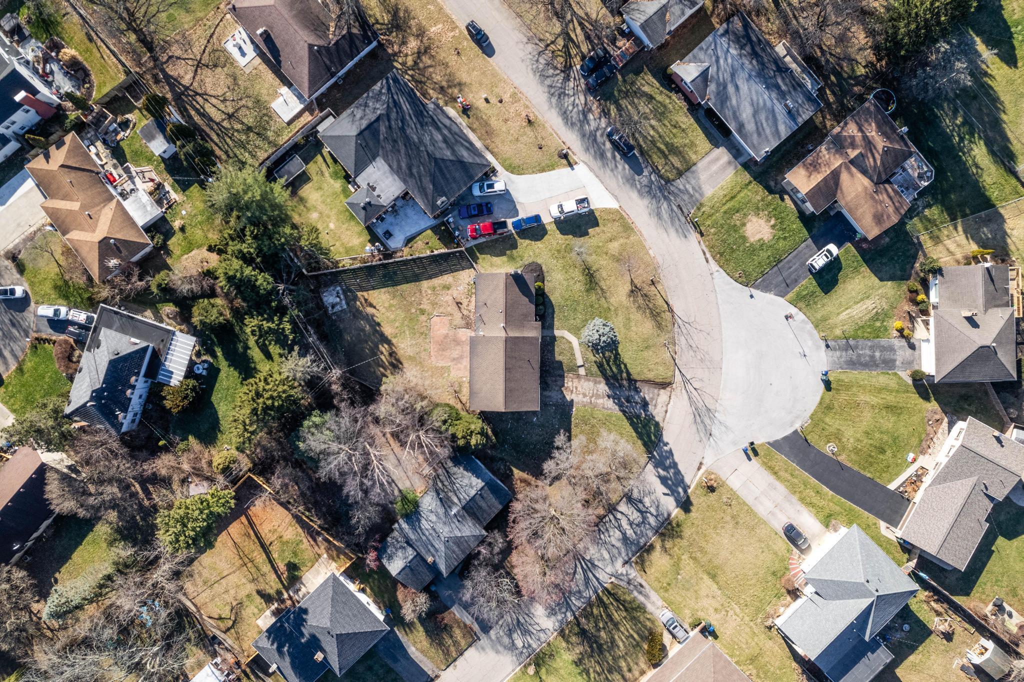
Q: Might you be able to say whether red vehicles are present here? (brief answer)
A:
Yes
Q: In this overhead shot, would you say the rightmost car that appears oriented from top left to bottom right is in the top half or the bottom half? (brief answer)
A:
bottom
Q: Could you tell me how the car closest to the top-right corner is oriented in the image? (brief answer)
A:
at an angle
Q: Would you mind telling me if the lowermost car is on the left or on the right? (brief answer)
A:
right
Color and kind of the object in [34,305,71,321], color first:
white car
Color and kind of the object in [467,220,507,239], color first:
red vehicle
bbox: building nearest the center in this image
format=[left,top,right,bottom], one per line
[469,270,542,412]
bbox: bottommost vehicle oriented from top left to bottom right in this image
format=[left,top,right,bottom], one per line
[659,608,688,644]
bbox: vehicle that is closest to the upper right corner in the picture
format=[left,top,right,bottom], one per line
[805,245,839,273]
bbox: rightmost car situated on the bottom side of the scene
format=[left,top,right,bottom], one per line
[782,519,807,551]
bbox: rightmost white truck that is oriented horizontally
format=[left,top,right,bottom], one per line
[550,197,592,218]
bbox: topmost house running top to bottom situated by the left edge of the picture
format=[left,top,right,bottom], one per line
[0,32,67,169]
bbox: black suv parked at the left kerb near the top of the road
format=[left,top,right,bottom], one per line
[466,16,490,52]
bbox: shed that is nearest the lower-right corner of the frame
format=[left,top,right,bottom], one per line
[968,638,1012,682]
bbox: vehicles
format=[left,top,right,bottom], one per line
[576,47,611,76]
[34,305,71,321]
[511,215,542,231]
[467,220,507,239]
[471,180,506,197]
[659,608,688,644]
[67,309,95,328]
[64,325,89,344]
[466,16,490,52]
[0,284,28,300]
[805,245,839,273]
[582,62,619,91]
[782,519,807,551]
[550,197,592,218]
[458,202,493,219]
